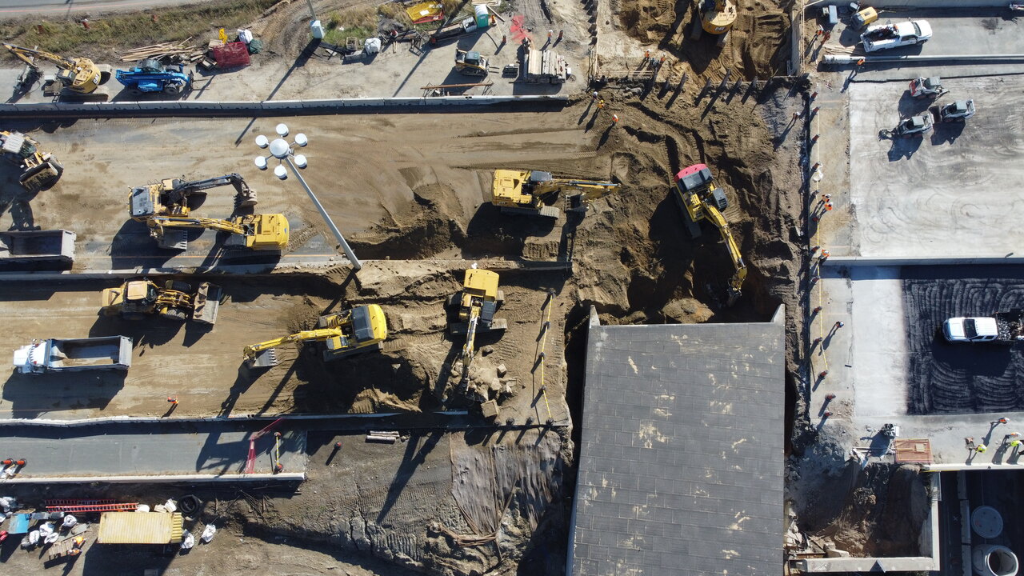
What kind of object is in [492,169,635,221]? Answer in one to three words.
work vehicle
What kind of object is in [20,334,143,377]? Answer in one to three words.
truck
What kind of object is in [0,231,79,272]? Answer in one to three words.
truck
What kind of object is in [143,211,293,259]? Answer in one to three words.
work vehicle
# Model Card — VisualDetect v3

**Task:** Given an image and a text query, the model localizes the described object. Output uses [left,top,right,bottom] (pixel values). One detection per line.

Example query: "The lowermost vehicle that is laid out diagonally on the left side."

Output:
[0,119,67,201]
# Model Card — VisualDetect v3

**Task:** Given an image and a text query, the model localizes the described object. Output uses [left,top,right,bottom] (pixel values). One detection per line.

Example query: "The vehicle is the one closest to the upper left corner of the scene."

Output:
[0,44,102,103]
